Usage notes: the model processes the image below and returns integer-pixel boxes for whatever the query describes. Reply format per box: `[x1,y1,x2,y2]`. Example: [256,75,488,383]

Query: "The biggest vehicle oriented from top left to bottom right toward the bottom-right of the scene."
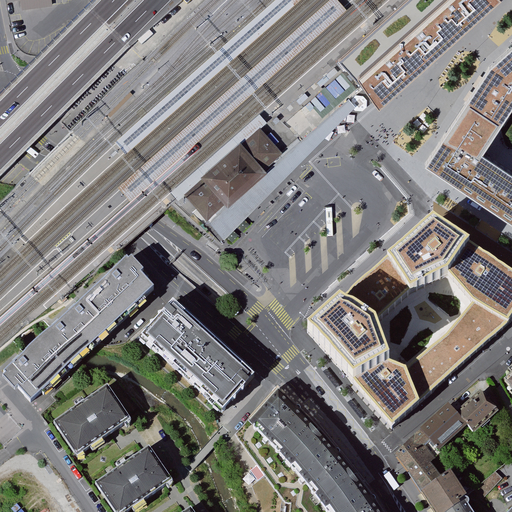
[383,471,400,491]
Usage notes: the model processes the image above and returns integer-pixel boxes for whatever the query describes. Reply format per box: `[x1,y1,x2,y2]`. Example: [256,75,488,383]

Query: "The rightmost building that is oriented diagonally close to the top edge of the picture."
[360,0,508,114]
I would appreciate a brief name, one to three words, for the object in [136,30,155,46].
vehicle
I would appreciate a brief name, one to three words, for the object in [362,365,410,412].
solar array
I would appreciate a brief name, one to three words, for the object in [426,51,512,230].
building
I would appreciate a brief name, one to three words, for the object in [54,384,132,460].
house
